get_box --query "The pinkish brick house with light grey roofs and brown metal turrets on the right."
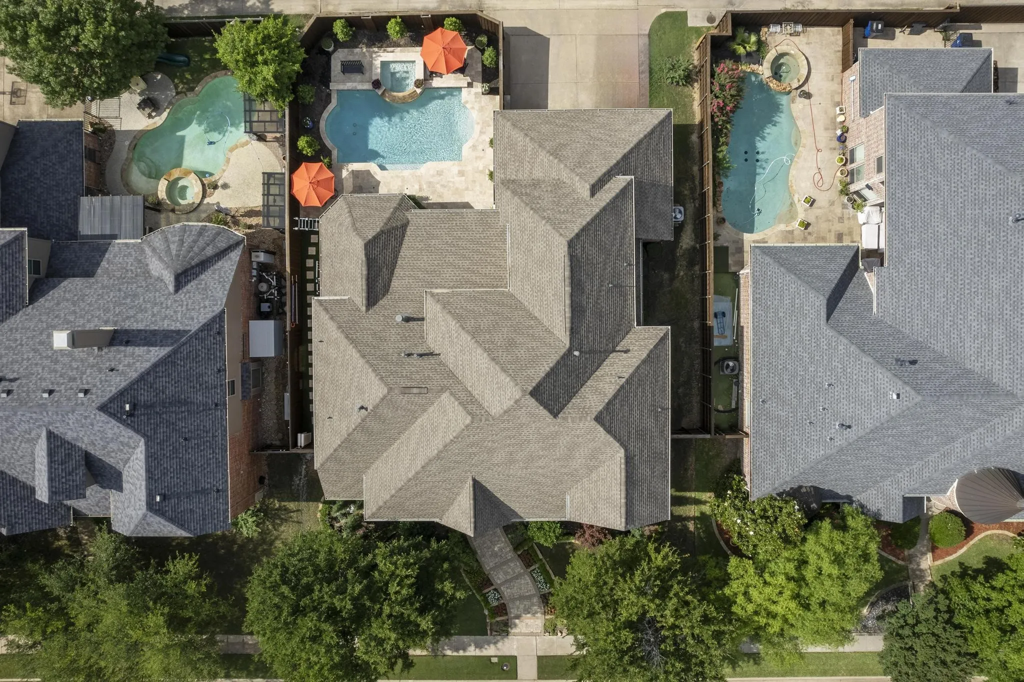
[741,46,1024,527]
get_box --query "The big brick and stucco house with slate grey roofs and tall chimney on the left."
[0,118,272,538]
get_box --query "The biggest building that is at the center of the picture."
[310,106,676,537]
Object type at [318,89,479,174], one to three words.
swimming pool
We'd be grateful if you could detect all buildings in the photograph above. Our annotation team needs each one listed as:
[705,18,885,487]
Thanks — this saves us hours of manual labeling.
[741,46,1024,527]
[310,106,676,537]
[0,118,272,538]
